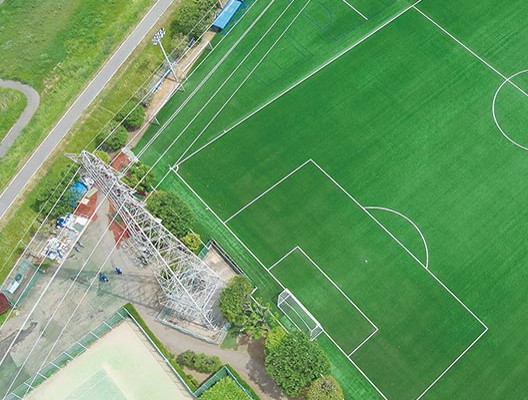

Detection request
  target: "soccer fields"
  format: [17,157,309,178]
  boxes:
[137,0,528,400]
[124,0,417,193]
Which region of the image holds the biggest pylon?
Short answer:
left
